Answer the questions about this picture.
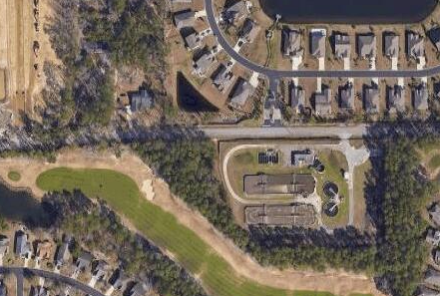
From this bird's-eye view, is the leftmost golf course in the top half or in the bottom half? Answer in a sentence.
Seen from above, the leftmost golf course lies in the bottom half of the view.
